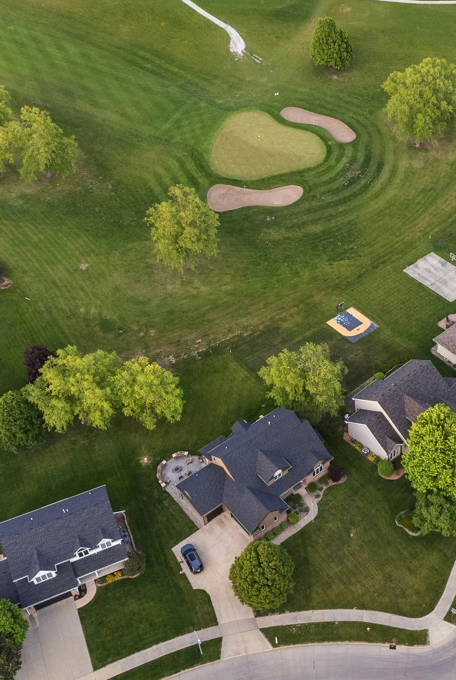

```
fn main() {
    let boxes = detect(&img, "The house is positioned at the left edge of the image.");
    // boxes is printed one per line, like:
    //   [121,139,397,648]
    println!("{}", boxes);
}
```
[0,485,130,624]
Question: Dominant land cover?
grass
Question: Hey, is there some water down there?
No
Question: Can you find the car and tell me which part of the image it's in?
bottom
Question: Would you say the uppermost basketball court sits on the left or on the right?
right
